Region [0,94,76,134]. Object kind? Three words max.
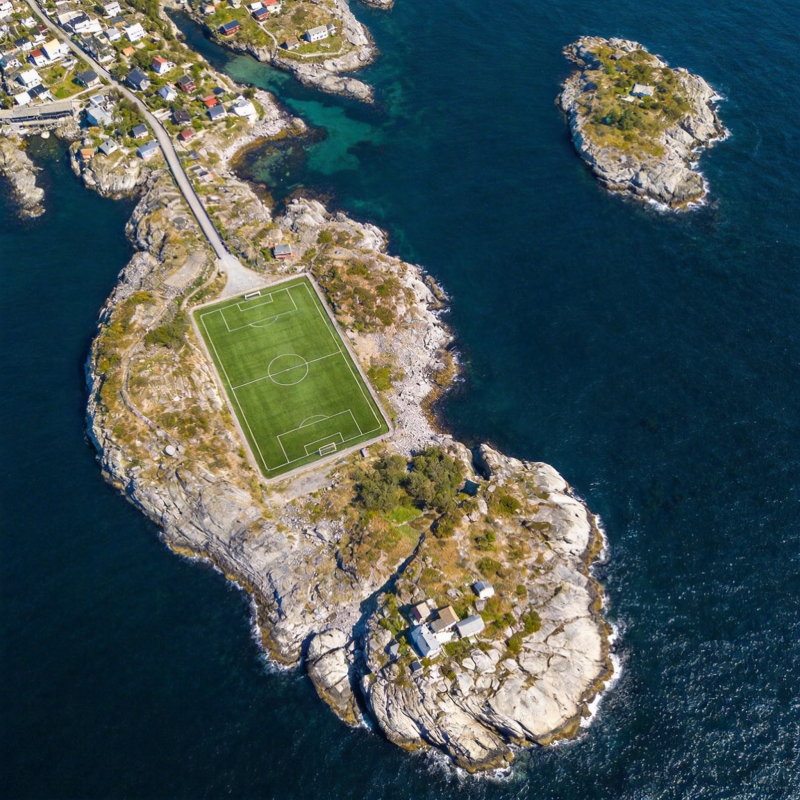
building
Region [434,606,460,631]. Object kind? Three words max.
house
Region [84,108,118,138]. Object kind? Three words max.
building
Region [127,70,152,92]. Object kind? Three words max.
house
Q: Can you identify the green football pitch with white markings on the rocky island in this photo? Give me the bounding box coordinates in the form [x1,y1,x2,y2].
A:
[191,273,395,484]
